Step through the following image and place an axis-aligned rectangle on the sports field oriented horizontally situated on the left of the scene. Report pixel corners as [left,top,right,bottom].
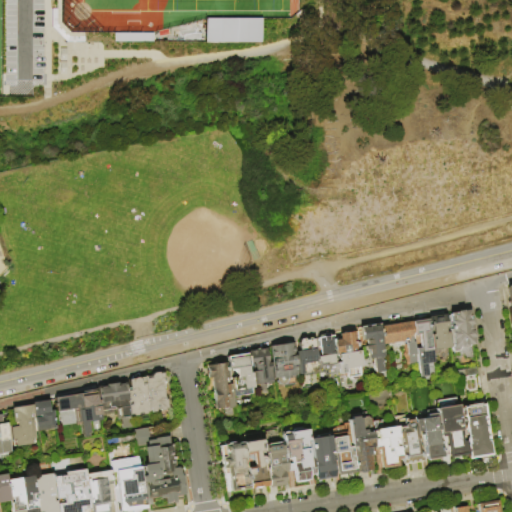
[63,0,300,30]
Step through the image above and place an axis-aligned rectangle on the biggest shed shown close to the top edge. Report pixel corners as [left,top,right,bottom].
[206,16,264,44]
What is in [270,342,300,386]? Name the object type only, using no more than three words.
house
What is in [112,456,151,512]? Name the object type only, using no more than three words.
house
